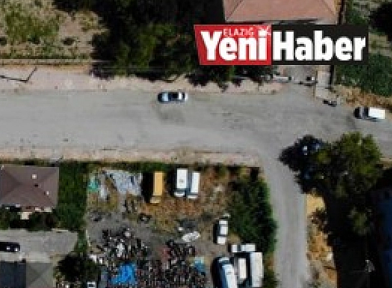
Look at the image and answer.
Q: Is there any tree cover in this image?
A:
Yes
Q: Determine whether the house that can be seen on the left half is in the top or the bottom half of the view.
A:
bottom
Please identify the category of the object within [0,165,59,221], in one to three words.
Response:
house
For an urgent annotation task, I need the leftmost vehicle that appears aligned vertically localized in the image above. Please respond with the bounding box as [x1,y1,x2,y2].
[146,171,162,205]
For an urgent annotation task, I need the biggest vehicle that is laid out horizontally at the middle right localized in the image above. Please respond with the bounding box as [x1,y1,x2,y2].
[347,108,388,122]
